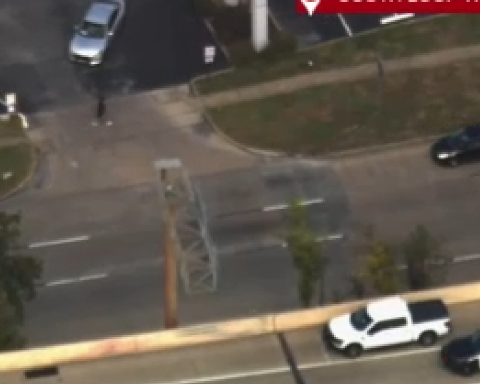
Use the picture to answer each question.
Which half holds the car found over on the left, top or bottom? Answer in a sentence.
The car found over on the left sits in the top half of the picture.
